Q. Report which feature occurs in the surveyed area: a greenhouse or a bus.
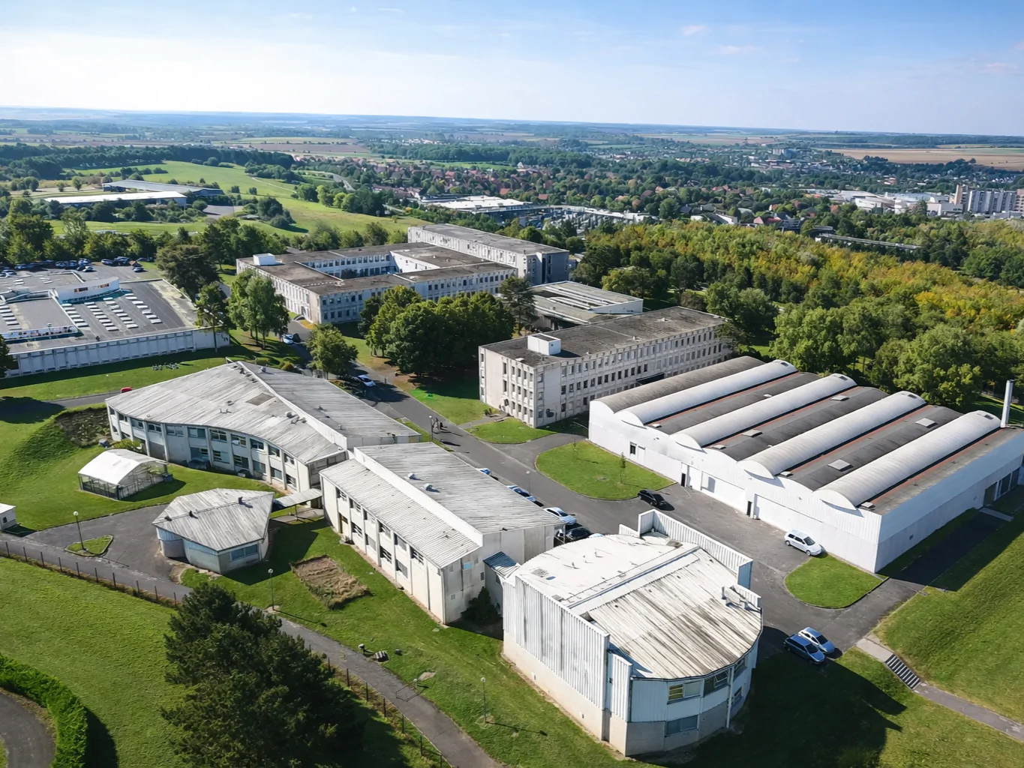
greenhouse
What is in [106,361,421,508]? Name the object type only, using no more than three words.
building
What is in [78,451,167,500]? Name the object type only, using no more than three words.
greenhouse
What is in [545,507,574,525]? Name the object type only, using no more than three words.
car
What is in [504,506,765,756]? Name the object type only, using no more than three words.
building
